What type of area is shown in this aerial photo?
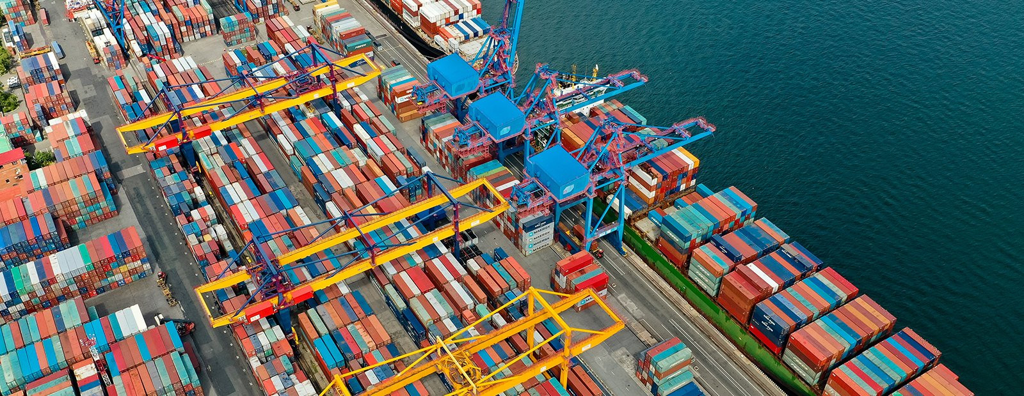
port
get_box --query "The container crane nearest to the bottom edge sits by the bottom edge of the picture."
[310,283,630,396]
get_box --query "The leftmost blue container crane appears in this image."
[99,0,128,56]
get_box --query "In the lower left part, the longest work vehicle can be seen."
[154,303,197,330]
